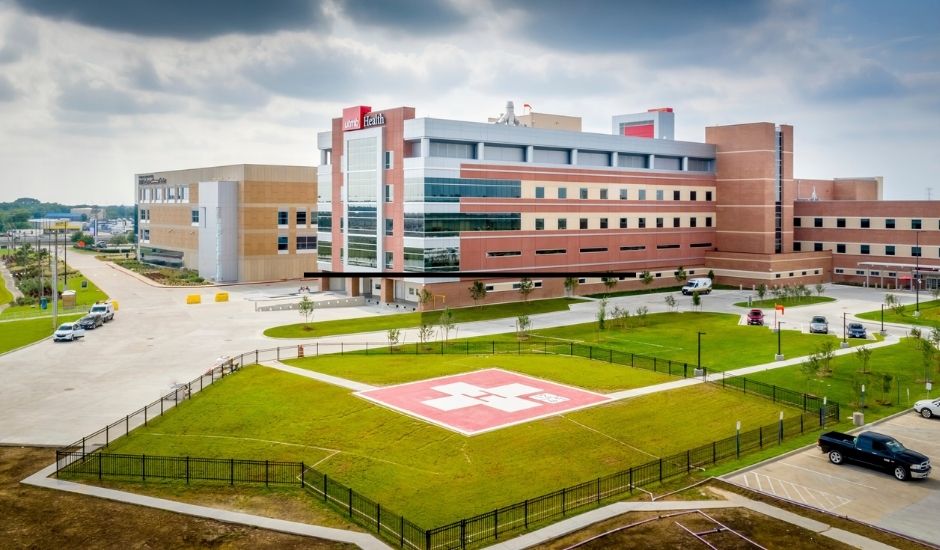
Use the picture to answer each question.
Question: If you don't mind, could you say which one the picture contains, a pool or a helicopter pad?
helicopter pad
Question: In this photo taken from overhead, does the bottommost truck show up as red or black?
black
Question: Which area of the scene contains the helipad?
bottom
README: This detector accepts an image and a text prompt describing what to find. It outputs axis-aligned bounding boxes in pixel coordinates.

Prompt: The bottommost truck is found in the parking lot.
[815,432,933,481]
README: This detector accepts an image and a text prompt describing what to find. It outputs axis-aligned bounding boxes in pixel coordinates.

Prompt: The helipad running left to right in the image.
[352,367,616,435]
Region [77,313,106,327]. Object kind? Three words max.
vehicle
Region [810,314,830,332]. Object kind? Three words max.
car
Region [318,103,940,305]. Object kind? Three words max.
building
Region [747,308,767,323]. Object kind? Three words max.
car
